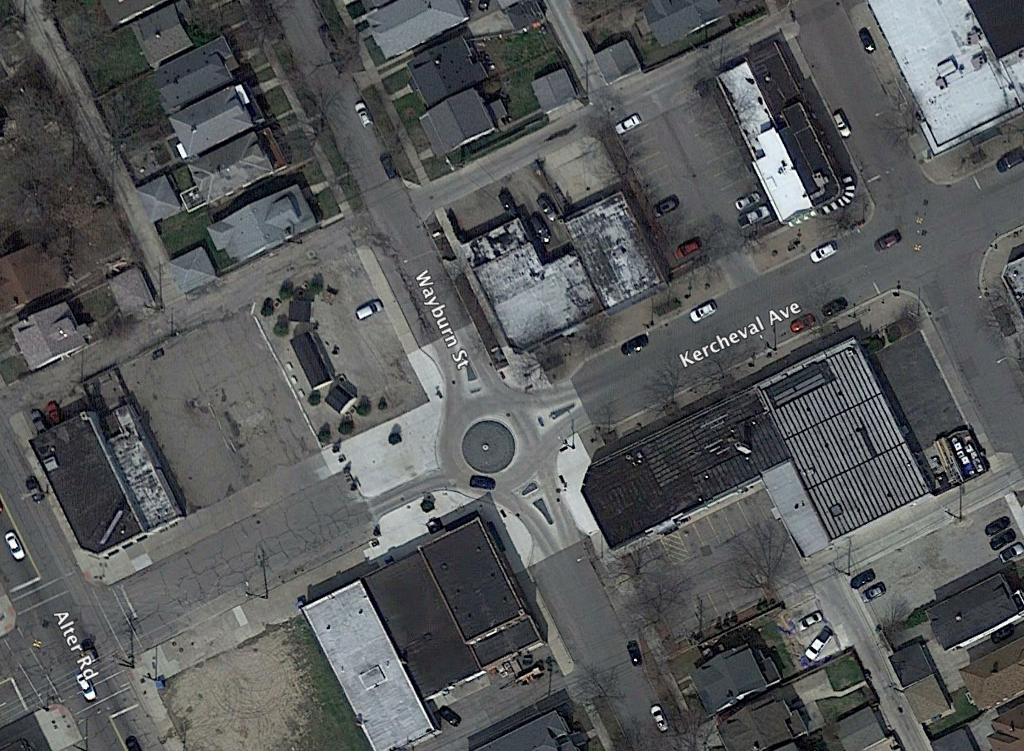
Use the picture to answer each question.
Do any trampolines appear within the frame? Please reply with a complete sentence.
No, there's no trampoline here.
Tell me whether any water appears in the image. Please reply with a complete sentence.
No, no water is visible.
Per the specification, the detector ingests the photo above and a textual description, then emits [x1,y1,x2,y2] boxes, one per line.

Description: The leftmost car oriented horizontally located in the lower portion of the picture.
[470,476,496,489]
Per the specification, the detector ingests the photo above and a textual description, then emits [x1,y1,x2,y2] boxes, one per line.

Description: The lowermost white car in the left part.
[79,675,96,700]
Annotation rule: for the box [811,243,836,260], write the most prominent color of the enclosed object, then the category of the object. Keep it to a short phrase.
white car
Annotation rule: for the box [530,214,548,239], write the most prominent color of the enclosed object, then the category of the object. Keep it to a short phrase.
black car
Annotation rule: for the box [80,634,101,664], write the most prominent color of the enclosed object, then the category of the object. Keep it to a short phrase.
black truck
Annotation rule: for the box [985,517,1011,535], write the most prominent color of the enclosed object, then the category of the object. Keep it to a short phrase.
black car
